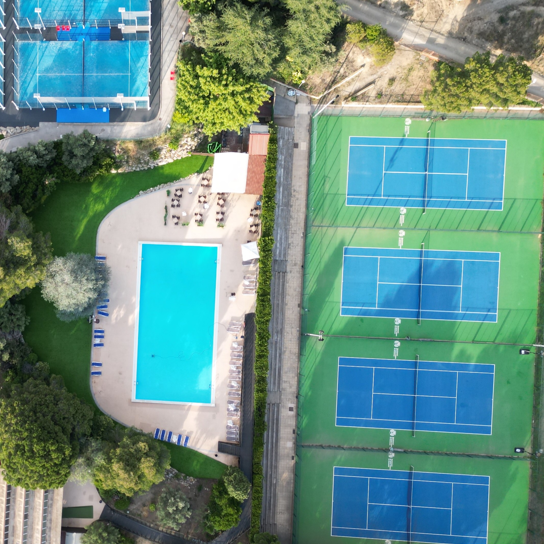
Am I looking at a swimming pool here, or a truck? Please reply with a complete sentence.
This aerial view contains a swimming pool.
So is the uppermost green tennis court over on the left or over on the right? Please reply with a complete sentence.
It is on the right.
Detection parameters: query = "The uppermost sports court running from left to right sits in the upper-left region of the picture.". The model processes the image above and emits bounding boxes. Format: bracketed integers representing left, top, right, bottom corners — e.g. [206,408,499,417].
[13,0,151,28]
